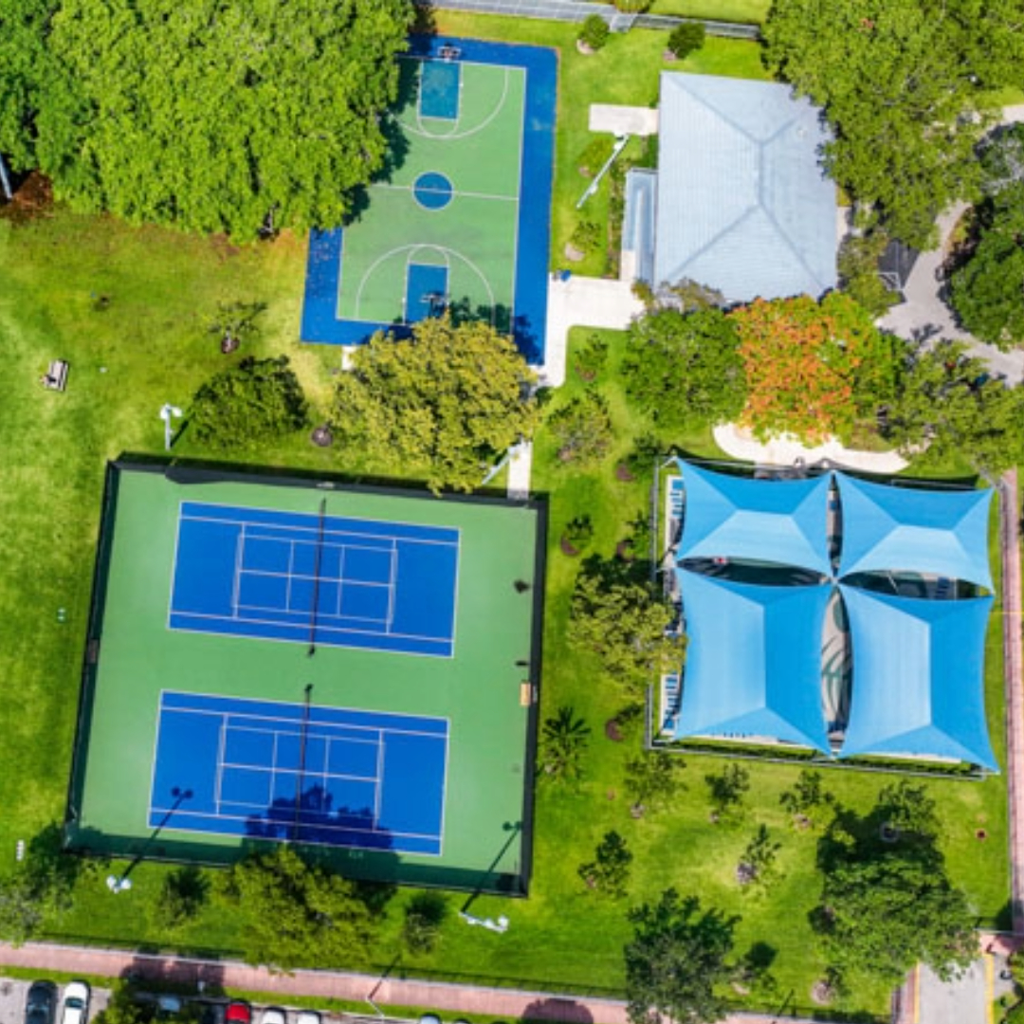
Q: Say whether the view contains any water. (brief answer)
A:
No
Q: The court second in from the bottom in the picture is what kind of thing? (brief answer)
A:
tennis court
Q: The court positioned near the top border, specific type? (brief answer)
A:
basketball court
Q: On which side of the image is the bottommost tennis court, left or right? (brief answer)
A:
left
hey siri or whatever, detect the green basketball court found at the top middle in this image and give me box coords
[301,25,558,365]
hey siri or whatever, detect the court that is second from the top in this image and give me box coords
[167,501,460,657]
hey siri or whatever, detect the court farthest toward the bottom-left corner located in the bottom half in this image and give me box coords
[148,690,449,855]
